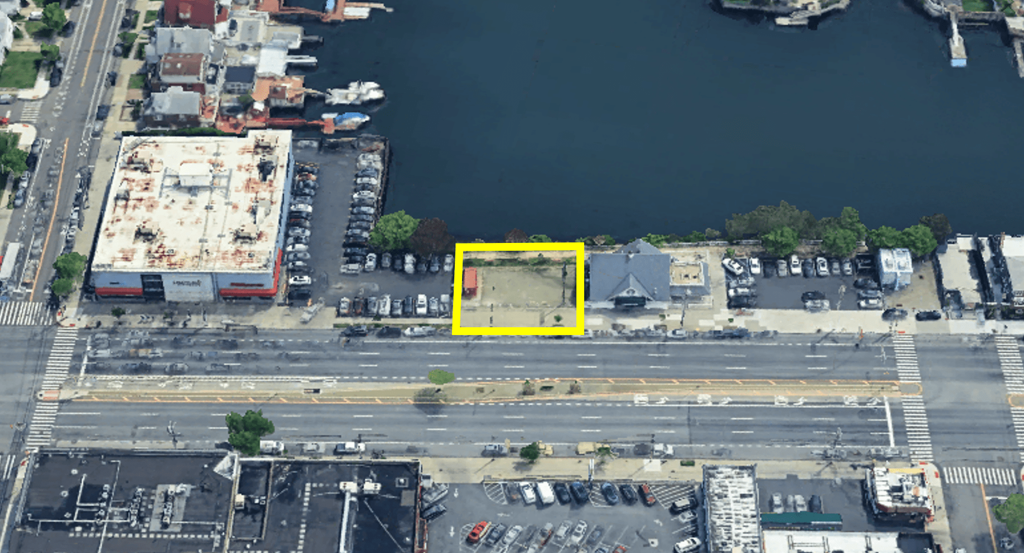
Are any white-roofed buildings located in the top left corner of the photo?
Yes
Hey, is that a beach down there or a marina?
marina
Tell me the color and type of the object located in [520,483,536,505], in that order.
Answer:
white car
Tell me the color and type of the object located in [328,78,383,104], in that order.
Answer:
white boat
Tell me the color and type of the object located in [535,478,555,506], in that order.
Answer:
white vehicle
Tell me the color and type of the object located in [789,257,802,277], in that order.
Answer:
white vehicle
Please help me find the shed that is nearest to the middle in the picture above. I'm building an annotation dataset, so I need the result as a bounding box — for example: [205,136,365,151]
[465,269,478,298]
